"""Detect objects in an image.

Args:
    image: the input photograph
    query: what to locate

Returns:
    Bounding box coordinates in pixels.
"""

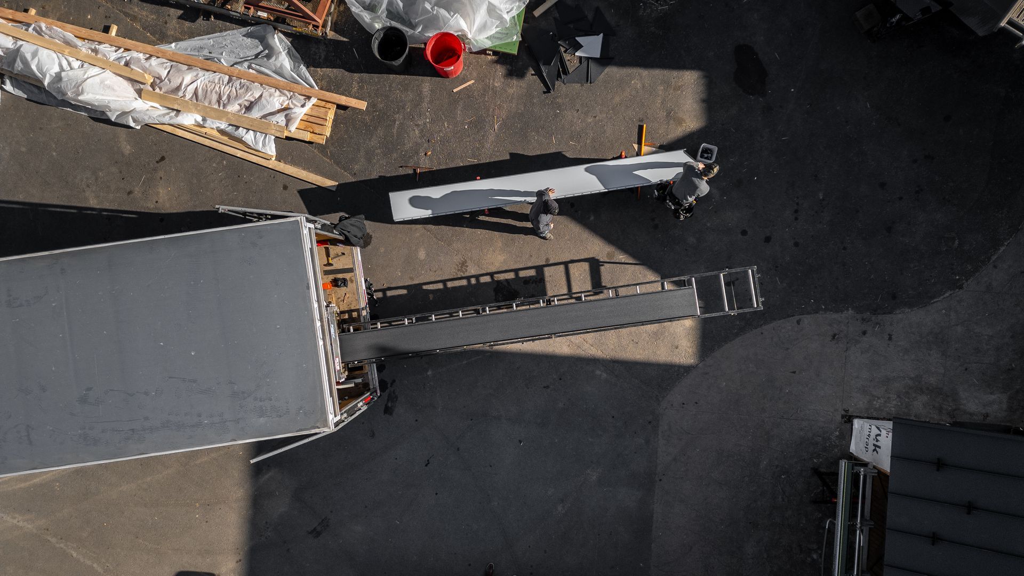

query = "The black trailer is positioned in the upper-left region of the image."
[148,0,337,40]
